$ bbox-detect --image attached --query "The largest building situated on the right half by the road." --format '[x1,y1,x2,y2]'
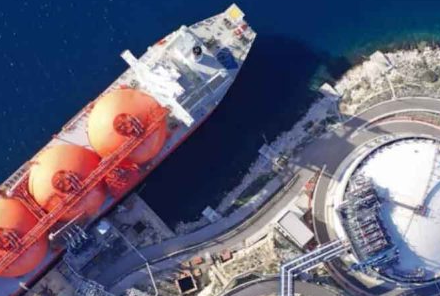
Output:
[278,211,314,246]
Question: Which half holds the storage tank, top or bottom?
bottom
